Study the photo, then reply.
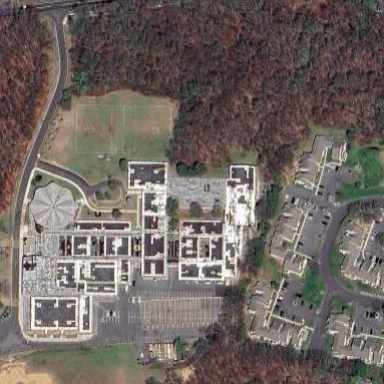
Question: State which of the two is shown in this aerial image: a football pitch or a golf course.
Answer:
football pitch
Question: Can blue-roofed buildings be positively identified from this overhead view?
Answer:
No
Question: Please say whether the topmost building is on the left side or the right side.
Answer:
right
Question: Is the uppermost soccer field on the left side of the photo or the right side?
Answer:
left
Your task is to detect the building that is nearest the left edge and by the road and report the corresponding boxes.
[29,181,78,230]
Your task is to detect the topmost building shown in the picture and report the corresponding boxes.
[294,133,349,187]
